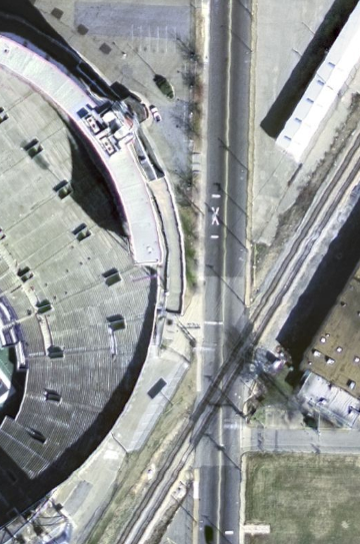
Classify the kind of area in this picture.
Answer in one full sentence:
This image shows a sports ground.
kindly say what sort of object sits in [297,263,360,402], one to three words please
building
